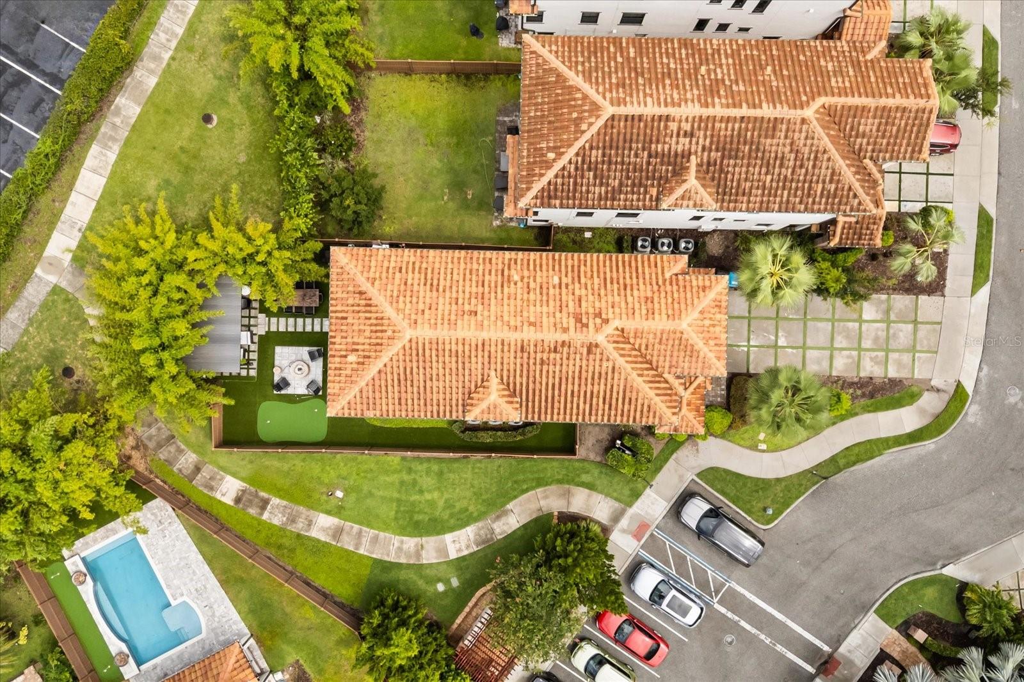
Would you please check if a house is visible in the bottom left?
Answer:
Yes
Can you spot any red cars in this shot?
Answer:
Yes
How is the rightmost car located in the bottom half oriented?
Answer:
diagonally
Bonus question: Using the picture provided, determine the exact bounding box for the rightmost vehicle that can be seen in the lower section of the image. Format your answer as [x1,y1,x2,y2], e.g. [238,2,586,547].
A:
[674,487,766,568]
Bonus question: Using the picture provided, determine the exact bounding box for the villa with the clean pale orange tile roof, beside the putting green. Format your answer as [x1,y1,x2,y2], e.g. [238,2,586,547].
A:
[320,244,729,437]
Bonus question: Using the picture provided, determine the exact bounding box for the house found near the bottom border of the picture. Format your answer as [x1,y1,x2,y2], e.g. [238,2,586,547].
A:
[164,641,261,682]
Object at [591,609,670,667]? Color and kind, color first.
red car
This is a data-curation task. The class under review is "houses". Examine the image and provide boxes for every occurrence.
[320,244,729,437]
[503,31,945,250]
[164,641,261,682]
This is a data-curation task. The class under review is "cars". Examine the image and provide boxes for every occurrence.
[591,609,670,667]
[931,121,962,159]
[624,556,706,630]
[674,487,766,568]
[565,629,643,682]
[535,660,584,682]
